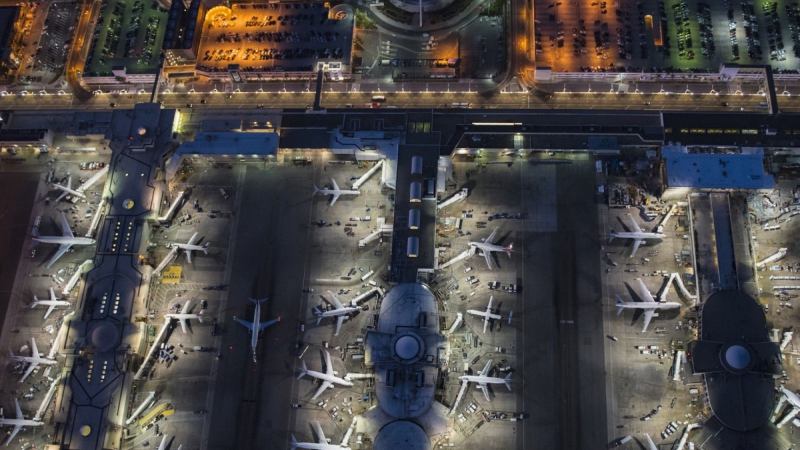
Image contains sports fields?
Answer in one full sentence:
No, there isn't any sports field down there.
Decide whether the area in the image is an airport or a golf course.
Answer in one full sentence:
This image shows an airport.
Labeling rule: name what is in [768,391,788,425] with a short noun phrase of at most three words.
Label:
jet bridge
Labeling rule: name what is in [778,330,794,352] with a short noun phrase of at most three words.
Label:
jet bridge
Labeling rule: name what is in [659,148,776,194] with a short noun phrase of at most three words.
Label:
building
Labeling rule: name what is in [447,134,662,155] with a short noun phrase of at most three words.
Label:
building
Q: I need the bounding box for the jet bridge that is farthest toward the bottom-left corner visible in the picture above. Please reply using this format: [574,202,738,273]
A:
[33,370,67,421]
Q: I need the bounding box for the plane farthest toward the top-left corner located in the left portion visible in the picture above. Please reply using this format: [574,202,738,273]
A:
[51,176,86,201]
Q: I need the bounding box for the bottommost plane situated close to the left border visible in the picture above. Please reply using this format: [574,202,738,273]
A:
[0,395,45,447]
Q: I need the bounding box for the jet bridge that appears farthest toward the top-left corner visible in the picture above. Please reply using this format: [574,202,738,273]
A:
[75,162,109,195]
